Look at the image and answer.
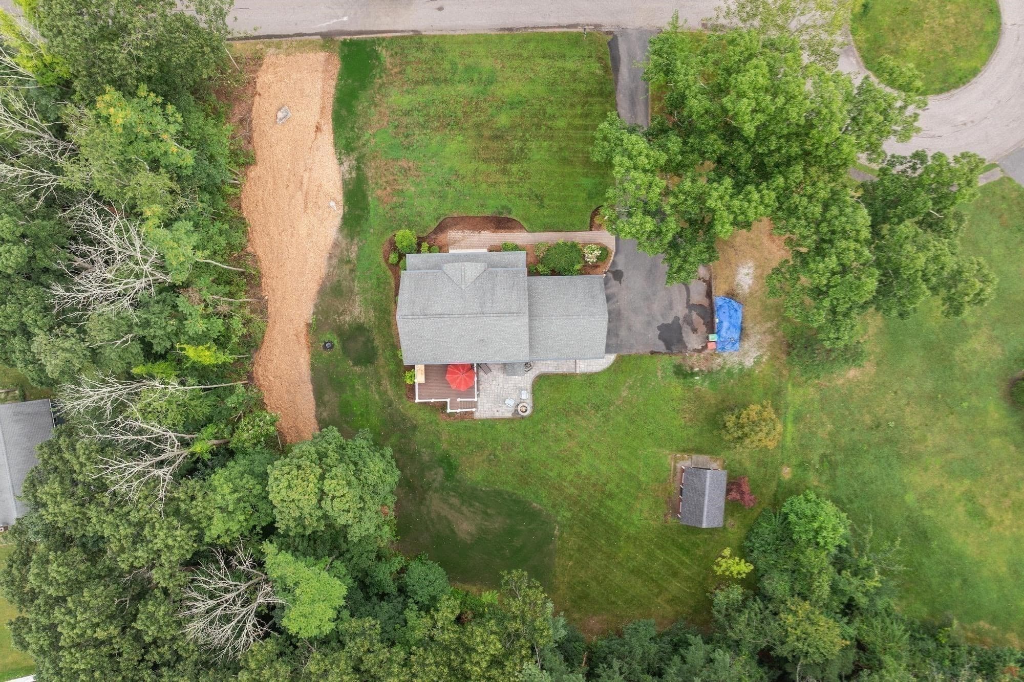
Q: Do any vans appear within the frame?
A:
No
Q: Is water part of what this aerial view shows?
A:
No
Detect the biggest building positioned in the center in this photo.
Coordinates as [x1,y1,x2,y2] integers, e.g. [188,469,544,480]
[396,248,608,375]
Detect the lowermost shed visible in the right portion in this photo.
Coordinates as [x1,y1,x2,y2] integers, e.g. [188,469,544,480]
[674,462,727,529]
